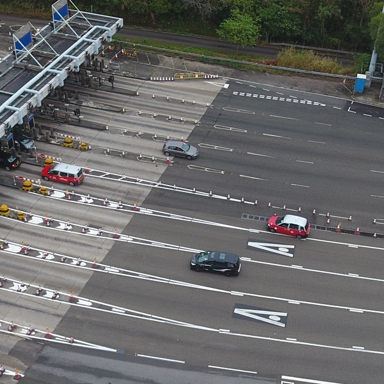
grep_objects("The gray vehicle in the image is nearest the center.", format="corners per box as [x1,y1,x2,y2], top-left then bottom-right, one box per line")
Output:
[160,137,198,159]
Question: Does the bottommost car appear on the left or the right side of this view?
right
